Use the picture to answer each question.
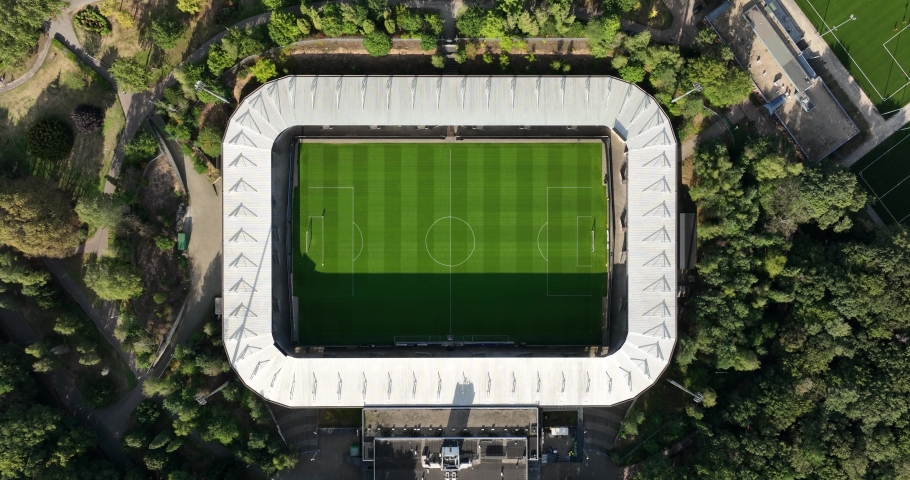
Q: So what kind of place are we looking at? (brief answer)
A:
sports ground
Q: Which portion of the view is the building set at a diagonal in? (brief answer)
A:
top right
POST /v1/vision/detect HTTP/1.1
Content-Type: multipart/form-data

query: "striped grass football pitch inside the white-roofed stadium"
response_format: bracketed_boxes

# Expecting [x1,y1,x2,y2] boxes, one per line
[295,142,606,345]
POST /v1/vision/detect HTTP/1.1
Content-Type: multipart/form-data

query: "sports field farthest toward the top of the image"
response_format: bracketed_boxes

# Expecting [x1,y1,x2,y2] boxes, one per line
[796,0,910,113]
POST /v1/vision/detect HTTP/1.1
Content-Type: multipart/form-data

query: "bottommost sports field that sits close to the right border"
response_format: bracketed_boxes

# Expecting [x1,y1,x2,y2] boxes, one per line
[848,121,910,236]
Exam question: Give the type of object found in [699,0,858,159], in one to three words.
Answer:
building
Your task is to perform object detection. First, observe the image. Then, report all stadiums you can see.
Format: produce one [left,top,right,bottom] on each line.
[220,72,680,412]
